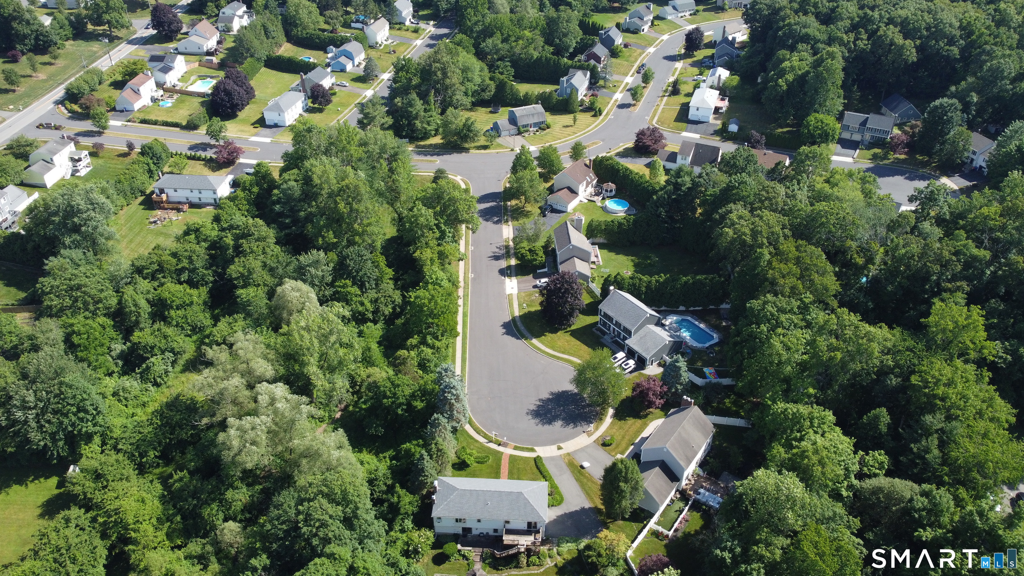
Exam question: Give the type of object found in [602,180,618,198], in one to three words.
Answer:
gazebo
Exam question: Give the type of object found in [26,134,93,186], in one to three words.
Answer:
house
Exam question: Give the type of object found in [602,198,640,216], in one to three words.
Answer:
swimming pool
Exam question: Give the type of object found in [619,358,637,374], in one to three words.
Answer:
car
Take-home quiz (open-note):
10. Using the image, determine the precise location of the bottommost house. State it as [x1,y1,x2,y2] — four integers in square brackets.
[429,477,549,576]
